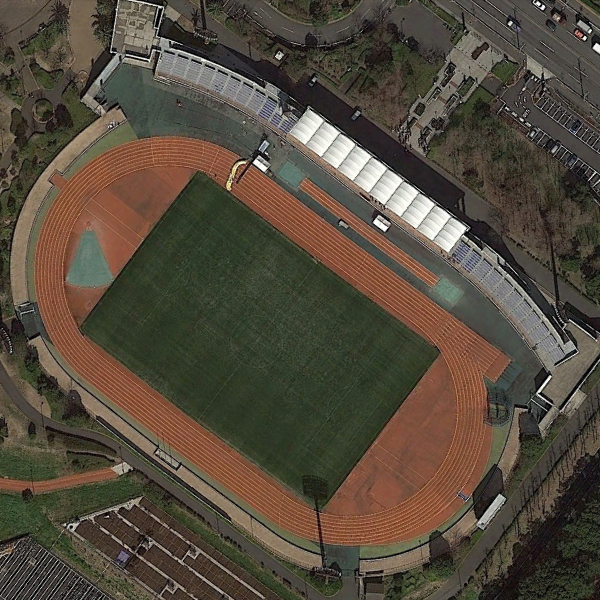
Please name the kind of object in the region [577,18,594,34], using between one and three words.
vehicle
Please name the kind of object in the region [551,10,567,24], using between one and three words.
vehicle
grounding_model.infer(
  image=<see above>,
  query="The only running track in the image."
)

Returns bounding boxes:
[35,137,510,545]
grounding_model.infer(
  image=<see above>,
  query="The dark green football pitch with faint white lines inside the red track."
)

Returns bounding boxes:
[82,172,440,505]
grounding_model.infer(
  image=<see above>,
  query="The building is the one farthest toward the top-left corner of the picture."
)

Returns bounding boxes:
[111,0,166,72]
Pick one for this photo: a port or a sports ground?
sports ground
